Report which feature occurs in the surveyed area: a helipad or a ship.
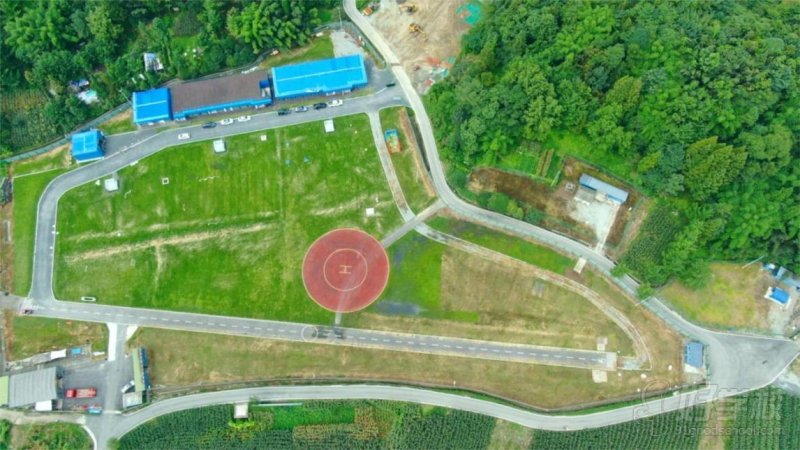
helipad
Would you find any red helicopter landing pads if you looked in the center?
Yes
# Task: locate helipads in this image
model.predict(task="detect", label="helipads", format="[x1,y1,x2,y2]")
[302,230,389,313]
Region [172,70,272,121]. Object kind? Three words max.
building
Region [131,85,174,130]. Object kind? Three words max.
building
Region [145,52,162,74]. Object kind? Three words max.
house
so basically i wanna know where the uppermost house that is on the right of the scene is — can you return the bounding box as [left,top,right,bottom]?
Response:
[574,173,627,209]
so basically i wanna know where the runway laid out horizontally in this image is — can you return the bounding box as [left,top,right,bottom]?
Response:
[22,297,616,383]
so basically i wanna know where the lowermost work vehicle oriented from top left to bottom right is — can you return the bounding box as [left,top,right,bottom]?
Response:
[408,20,425,36]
